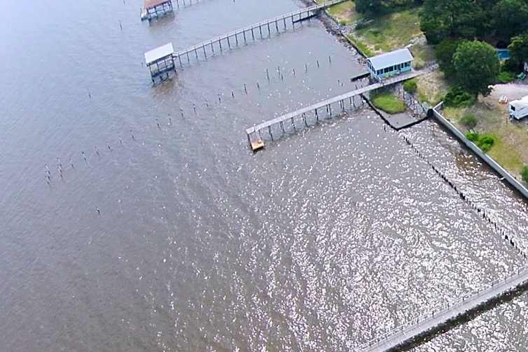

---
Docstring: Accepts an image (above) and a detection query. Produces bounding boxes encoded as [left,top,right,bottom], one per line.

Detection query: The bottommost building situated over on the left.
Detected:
[138,45,181,83]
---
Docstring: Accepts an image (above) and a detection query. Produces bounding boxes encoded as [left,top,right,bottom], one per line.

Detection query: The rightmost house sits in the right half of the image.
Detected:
[366,44,418,92]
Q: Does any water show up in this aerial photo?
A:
Yes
